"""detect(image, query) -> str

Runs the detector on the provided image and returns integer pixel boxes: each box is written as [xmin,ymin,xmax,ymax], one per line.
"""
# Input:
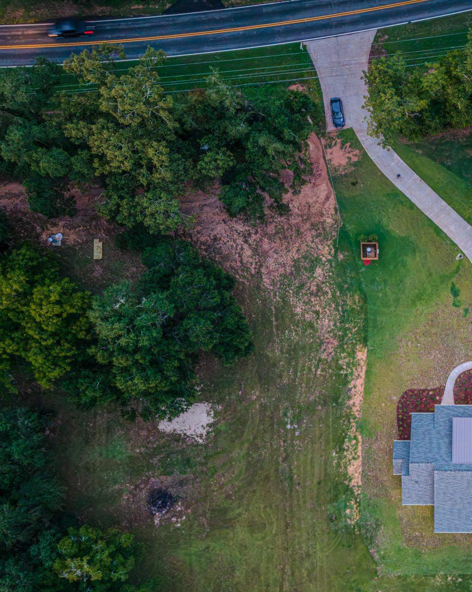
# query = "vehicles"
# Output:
[331,96,346,129]
[53,21,91,37]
